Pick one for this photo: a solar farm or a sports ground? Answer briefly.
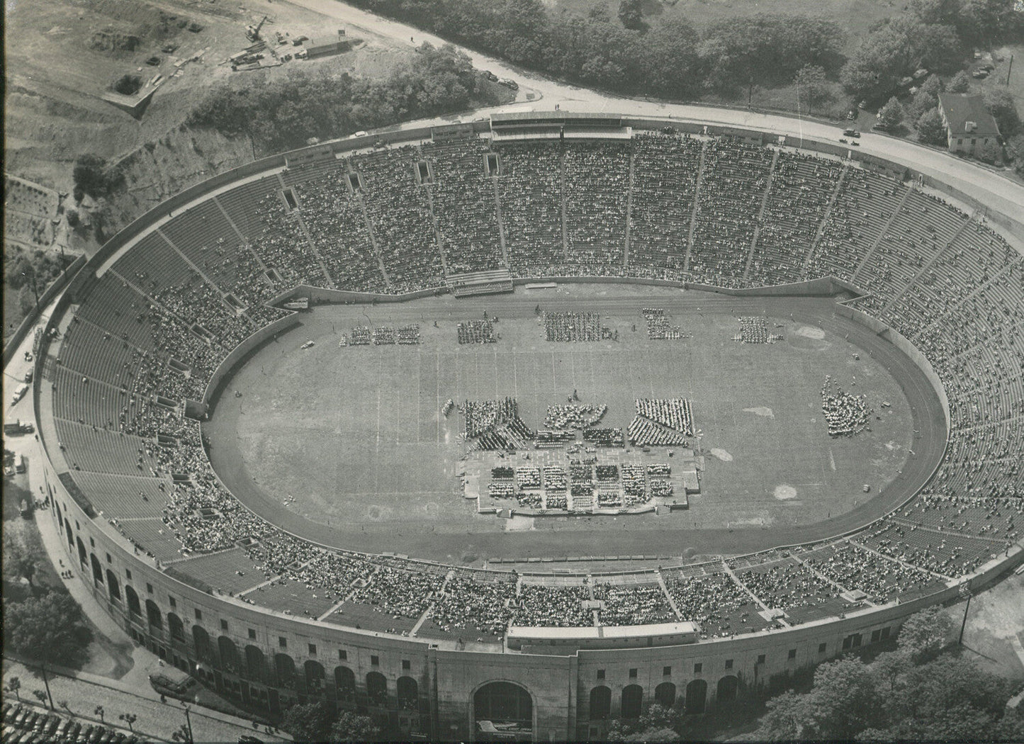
sports ground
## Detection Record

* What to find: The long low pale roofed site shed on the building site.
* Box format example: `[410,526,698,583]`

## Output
[301,29,356,61]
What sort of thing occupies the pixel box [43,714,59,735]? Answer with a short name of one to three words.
car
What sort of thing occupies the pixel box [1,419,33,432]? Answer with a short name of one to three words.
vehicle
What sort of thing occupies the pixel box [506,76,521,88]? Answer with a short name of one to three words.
vehicle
